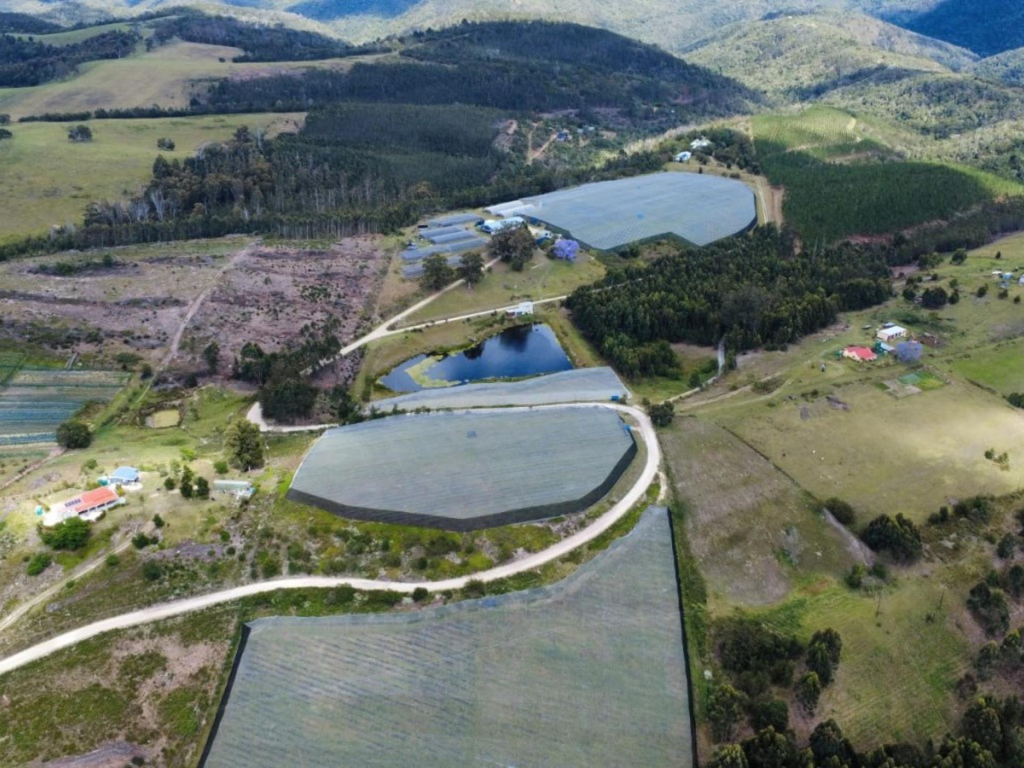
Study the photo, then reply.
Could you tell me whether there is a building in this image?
Yes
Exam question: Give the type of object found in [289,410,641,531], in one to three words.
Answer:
house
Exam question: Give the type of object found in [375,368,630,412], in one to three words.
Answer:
house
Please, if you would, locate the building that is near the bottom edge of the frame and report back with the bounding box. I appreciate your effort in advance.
[201,508,695,768]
